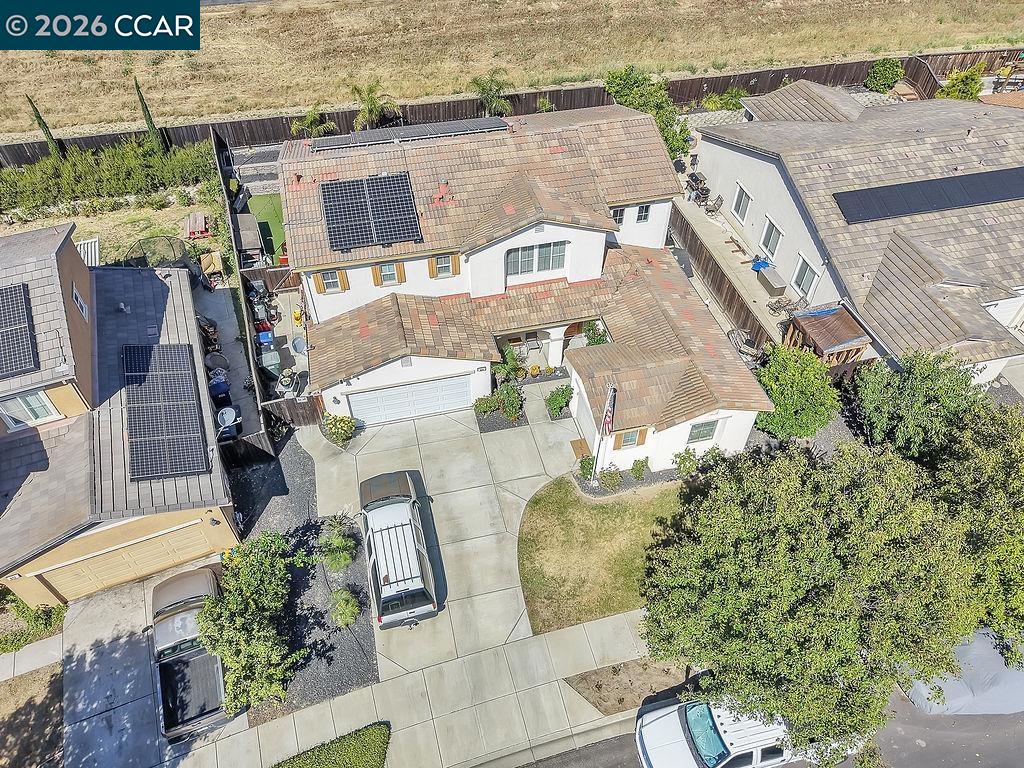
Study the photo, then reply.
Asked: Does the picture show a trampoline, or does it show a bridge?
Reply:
trampoline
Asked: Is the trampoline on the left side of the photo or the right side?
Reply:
left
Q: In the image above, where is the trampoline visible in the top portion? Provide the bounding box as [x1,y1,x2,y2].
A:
[117,232,215,307]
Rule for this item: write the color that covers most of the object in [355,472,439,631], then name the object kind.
white car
